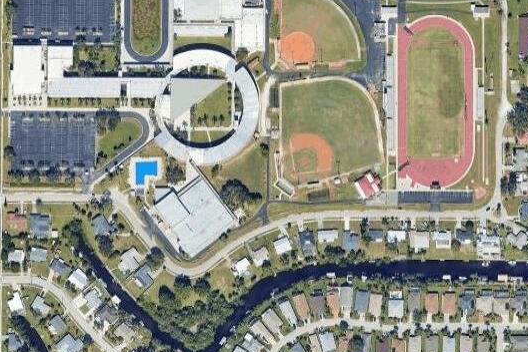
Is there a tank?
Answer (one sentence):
No, I can see no tank in this picture.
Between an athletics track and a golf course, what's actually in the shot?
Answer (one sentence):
There is an athletics track in the scene.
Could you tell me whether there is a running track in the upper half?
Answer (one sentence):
Yes, in the upper half there is a running track.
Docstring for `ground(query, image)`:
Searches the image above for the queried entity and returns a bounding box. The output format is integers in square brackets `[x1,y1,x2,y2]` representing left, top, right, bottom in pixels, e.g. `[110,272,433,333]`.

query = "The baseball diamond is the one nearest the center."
[280,77,383,187]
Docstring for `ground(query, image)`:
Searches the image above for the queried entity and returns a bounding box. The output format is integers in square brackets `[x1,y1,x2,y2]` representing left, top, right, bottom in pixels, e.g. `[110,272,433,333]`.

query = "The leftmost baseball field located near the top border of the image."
[280,0,360,70]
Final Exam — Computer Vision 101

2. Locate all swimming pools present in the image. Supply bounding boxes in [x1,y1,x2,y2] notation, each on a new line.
[131,157,161,188]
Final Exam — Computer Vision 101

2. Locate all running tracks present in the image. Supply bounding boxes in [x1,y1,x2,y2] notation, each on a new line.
[395,14,475,189]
